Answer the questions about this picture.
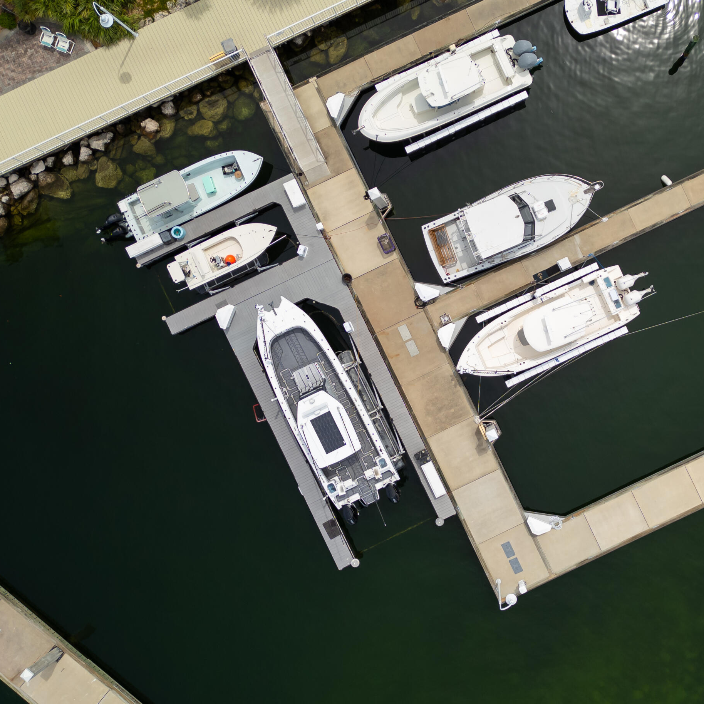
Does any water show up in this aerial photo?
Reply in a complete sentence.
Yes, water can be seen from above here.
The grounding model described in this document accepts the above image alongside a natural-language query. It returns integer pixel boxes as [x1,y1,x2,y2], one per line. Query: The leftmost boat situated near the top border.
[352,35,546,142]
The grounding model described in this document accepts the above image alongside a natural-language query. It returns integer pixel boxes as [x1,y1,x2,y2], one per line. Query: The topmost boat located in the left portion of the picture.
[95,150,263,244]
